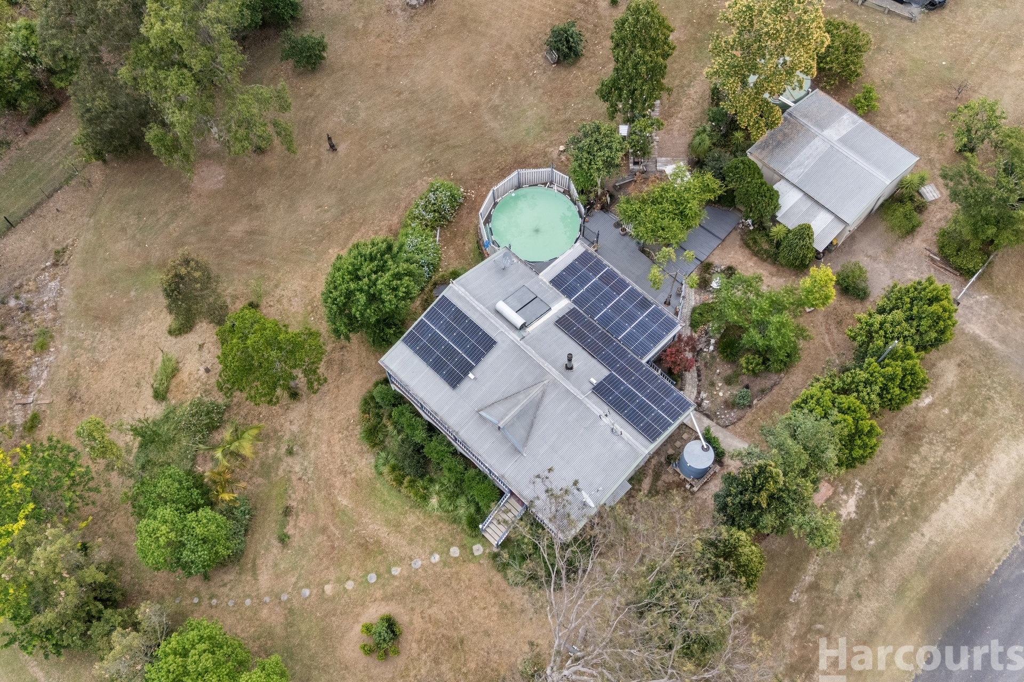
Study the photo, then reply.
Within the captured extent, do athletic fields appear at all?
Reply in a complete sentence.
No, the picture doesn't show any athletic field.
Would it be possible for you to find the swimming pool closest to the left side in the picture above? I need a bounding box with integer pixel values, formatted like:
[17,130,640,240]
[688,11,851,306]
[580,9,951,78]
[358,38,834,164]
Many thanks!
[489,185,582,269]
